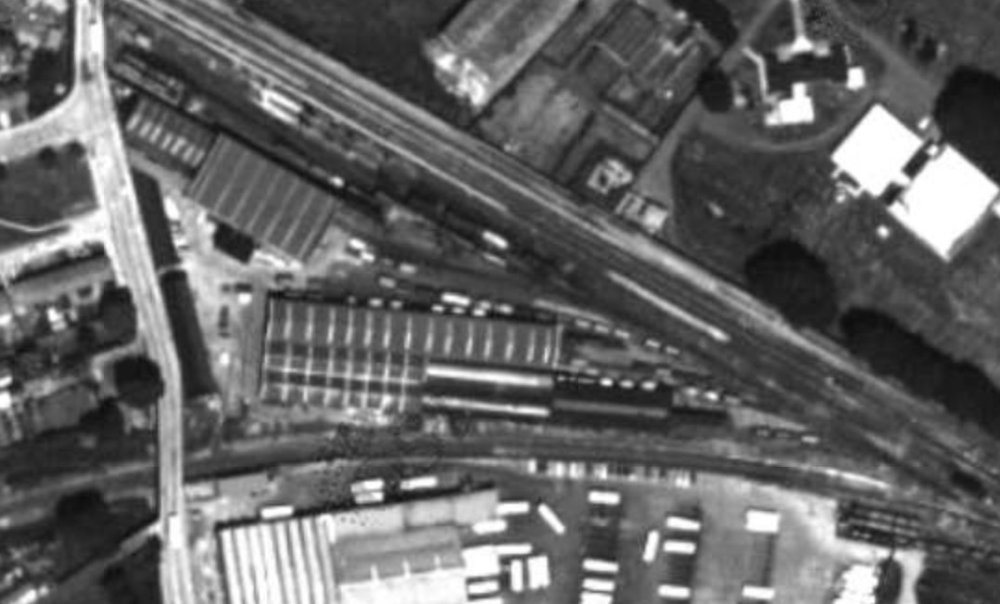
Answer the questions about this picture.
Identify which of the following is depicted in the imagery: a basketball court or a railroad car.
railroad car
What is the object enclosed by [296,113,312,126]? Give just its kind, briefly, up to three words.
rail car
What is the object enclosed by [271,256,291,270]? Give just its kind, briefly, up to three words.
vehicle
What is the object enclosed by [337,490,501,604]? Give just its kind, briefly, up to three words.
building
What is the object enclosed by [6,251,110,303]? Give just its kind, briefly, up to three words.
house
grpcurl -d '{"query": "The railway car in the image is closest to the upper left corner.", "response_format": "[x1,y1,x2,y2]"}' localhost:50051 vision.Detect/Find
[254,75,270,88]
